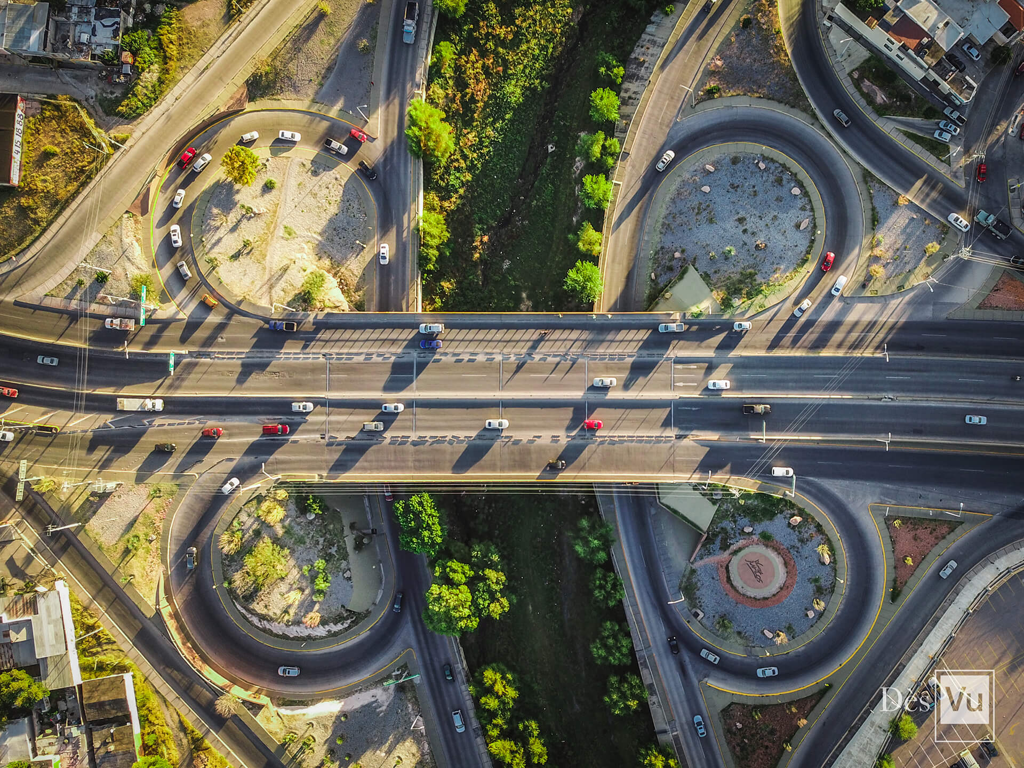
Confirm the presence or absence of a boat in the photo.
No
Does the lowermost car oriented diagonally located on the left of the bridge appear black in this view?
No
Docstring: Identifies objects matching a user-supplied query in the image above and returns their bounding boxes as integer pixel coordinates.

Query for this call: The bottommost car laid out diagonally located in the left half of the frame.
[220,475,240,495]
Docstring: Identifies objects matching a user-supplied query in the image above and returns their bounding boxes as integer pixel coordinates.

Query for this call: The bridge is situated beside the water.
[280,312,760,493]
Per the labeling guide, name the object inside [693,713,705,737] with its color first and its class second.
blue vehicle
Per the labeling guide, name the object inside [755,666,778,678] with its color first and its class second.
blue vehicle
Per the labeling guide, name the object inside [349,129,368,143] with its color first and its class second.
red car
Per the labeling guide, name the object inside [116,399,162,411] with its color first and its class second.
white vehicle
